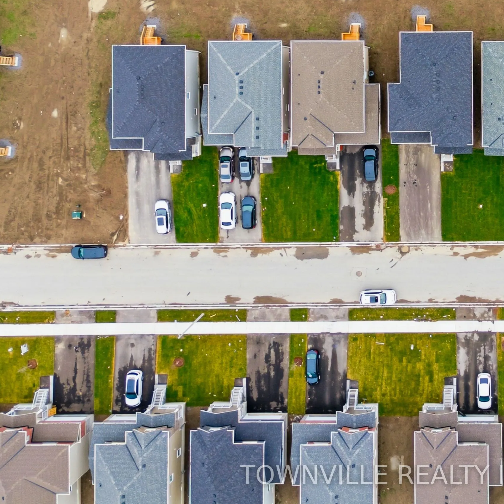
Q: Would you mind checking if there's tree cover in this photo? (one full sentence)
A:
No, the scene doesn't show any tree cover.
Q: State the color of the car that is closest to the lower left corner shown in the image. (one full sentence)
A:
In this view, the car that is closest to the lower left corner is white.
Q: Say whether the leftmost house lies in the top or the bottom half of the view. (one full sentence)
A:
It is in the bottom half that the leftmost house appears.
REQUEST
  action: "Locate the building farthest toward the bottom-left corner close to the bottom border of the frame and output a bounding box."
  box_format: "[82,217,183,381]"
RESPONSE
[0,377,93,504]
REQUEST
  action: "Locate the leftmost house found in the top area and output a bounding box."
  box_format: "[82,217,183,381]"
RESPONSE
[110,45,201,180]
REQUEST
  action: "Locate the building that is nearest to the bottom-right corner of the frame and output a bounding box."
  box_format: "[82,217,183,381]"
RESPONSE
[414,374,503,504]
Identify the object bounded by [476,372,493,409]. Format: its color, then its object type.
white car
